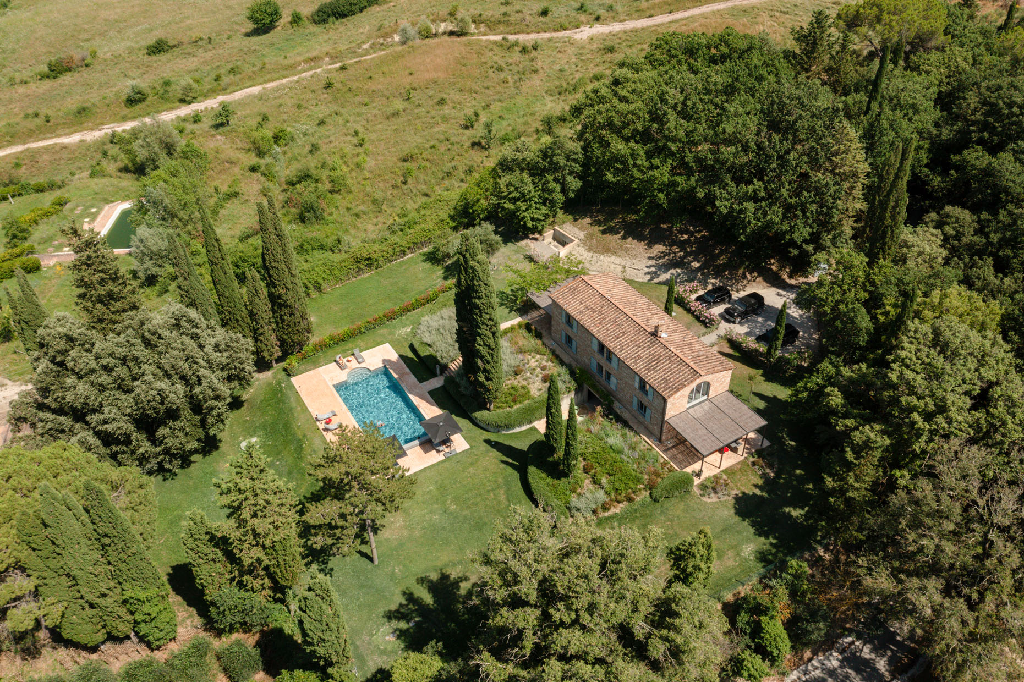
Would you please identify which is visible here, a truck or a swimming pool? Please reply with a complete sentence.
I can see a swimming pool in this picture.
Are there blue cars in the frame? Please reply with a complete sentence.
No, no blue car can be seen from above.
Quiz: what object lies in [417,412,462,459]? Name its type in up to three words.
umbrella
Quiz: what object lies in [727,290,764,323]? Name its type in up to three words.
car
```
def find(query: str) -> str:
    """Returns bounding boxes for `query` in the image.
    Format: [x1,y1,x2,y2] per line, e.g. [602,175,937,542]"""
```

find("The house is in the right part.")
[547,271,738,443]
